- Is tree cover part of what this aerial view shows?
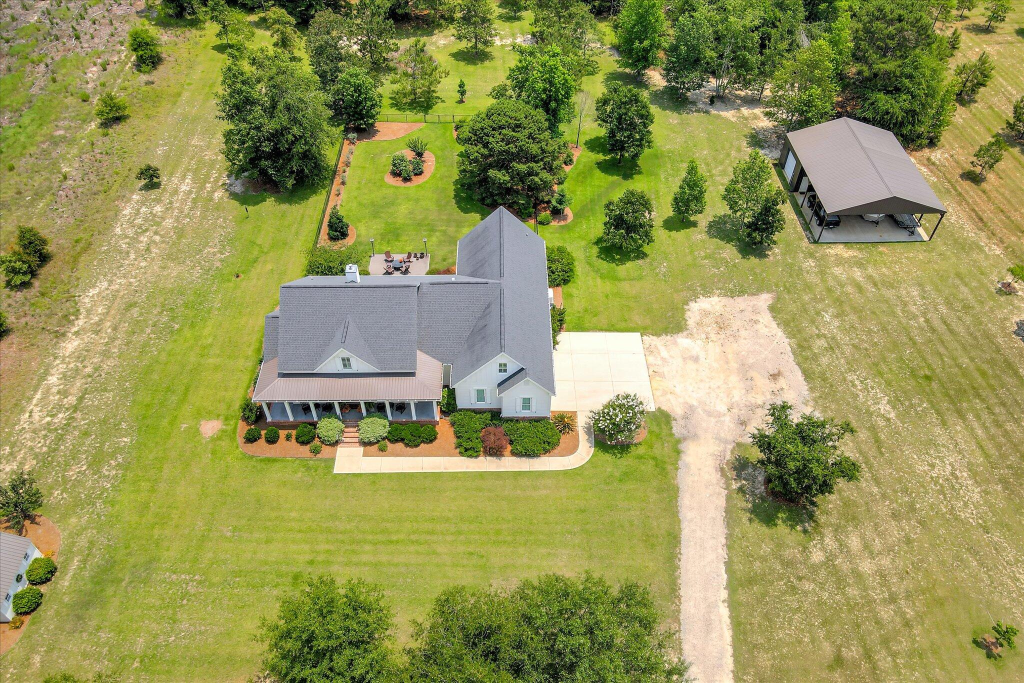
Yes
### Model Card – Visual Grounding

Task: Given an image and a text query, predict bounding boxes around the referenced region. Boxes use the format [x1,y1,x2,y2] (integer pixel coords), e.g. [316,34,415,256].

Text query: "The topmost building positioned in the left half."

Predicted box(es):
[250,206,558,447]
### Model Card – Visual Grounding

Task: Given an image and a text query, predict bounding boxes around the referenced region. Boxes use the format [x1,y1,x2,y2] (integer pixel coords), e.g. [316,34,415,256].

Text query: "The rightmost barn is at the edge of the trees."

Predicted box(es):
[779,116,947,242]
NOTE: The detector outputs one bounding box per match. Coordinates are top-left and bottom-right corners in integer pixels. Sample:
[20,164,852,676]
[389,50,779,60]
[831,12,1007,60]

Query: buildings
[250,206,558,447]
[0,525,42,621]
[779,116,947,242]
